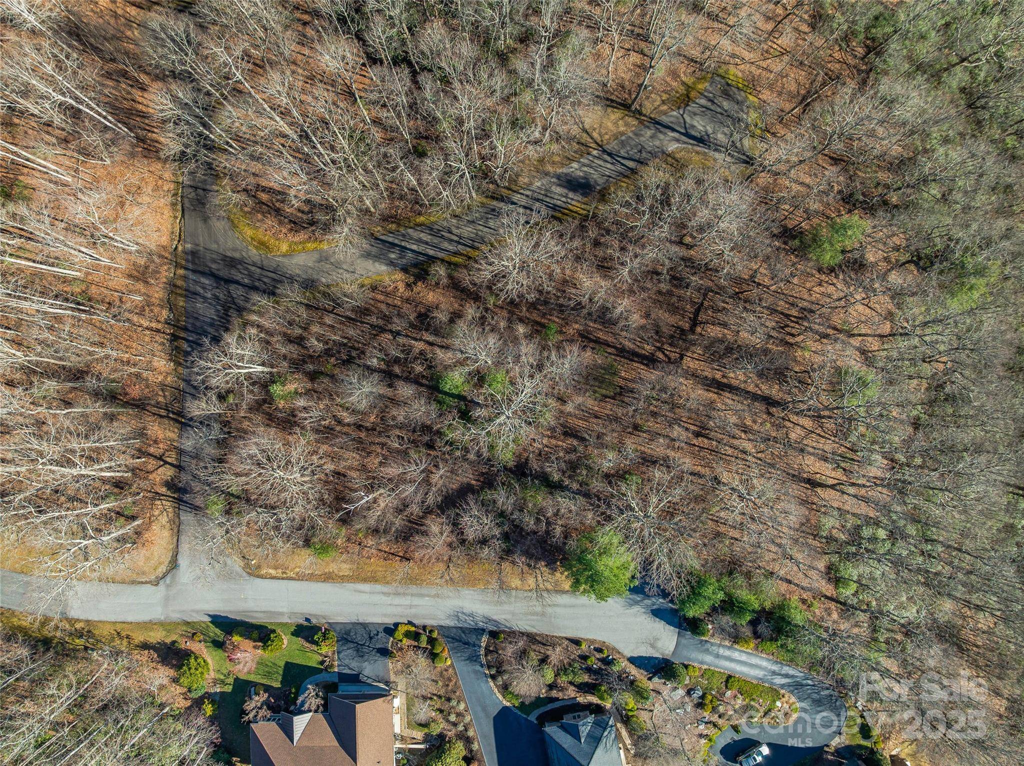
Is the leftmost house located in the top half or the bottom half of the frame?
bottom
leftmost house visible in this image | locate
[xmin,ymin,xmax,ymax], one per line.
[249,687,394,766]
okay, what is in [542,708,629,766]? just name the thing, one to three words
house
